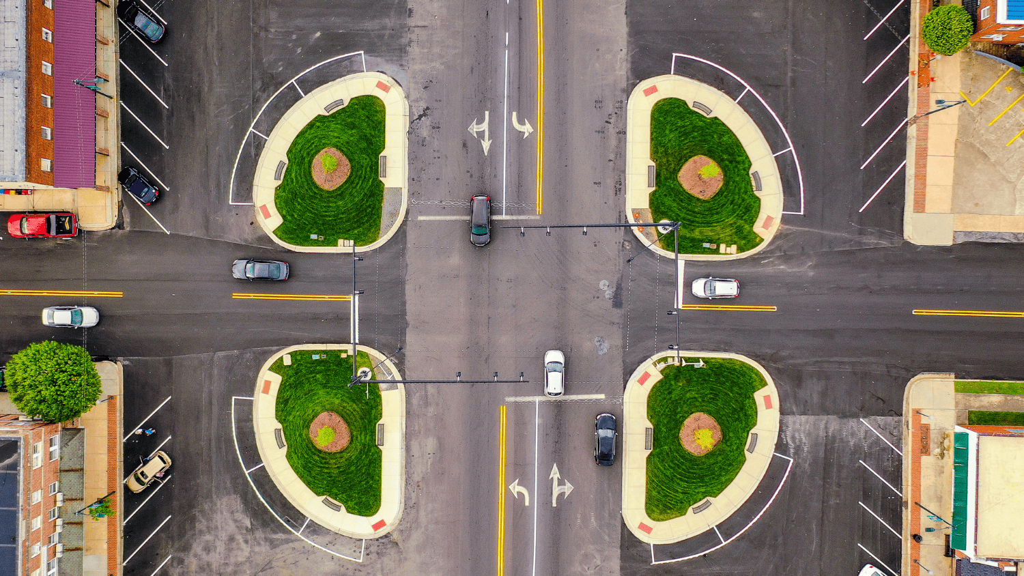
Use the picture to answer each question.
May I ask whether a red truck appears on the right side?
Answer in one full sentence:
No, there's no red truck to be seen on the right side.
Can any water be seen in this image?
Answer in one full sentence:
No, water can't be seen anywhere here.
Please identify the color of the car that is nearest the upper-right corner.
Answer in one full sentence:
In this view, the car that is nearest the upper-right corner is white.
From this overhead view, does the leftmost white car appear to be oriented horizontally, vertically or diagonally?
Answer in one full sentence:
What the image shows is the leftmost white car lying horizontally.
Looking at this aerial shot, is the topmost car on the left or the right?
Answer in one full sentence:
The topmost car appears in the left half of the scene.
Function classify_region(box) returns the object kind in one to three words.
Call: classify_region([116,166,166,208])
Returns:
car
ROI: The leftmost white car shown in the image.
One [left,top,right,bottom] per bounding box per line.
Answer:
[43,304,102,329]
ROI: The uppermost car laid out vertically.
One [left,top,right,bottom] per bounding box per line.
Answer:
[468,194,493,246]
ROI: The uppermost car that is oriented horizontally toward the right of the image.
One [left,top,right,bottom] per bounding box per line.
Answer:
[690,275,740,300]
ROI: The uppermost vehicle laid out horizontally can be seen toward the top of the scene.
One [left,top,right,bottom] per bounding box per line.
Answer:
[10,211,80,238]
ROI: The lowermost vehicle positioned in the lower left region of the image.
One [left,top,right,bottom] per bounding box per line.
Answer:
[125,448,176,494]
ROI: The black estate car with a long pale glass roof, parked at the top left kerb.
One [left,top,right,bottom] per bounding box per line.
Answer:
[116,0,170,44]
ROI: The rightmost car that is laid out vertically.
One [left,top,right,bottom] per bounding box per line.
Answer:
[593,413,618,466]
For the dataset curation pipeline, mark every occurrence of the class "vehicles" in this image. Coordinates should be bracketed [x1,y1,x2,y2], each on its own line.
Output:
[593,413,618,466]
[233,256,291,282]
[542,349,567,398]
[468,194,493,246]
[116,166,166,208]
[690,275,740,300]
[125,448,176,494]
[10,211,80,238]
[43,304,102,329]
[856,563,885,576]
[116,0,170,44]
